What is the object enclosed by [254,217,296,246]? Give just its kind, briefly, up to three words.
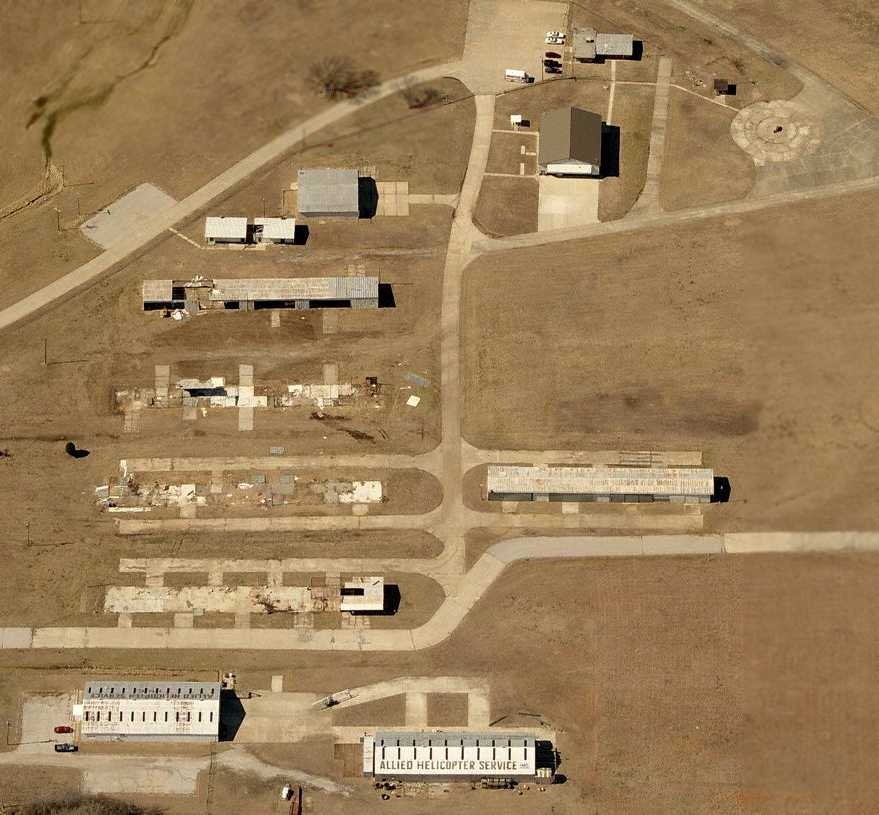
house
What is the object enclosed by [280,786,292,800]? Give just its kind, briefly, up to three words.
vehicle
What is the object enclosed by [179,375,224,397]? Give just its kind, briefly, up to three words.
shed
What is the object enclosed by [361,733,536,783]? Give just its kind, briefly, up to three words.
hangar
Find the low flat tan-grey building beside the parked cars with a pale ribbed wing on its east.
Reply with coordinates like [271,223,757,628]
[573,26,632,64]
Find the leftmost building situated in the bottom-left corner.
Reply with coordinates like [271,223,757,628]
[72,682,221,743]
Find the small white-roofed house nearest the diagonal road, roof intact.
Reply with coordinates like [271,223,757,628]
[205,216,248,246]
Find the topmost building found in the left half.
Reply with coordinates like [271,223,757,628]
[299,168,359,219]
